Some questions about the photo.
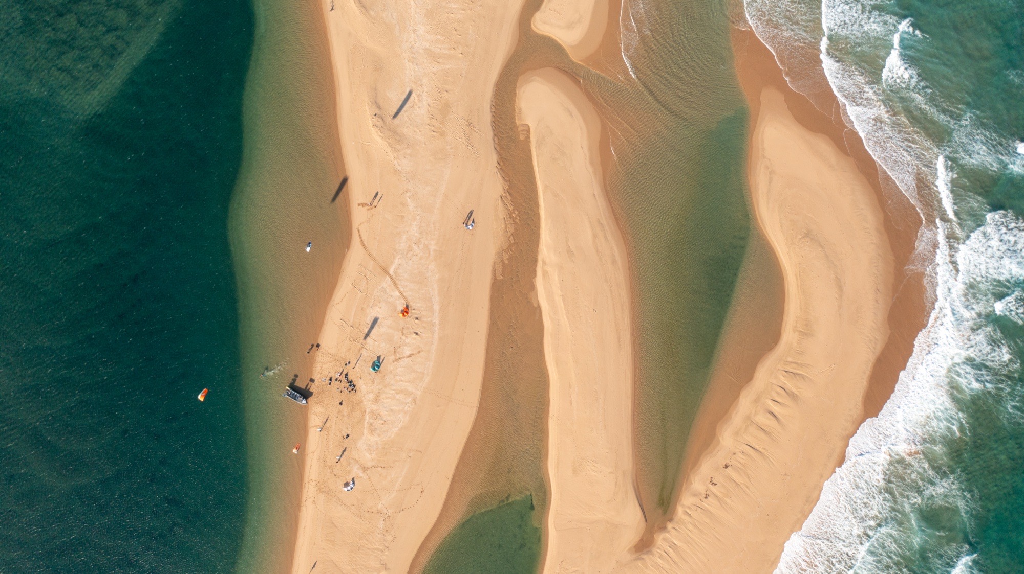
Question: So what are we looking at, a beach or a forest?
beach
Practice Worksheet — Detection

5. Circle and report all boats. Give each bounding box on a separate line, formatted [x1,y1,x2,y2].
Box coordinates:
[283,391,306,406]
